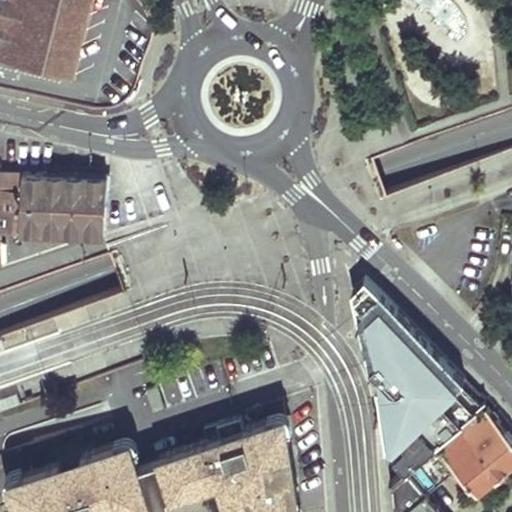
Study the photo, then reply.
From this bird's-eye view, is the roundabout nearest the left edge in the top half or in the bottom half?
top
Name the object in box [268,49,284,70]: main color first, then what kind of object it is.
white car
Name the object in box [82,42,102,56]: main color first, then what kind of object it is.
white car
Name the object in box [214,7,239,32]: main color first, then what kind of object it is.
white vehicle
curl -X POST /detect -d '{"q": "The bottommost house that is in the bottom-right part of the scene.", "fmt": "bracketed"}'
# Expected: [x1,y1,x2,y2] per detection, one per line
[392,474,422,512]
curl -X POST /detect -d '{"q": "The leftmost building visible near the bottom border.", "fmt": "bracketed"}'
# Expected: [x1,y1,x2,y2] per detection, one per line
[3,435,148,512]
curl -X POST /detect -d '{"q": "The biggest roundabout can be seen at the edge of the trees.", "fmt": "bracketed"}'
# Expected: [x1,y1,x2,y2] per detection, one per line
[180,33,304,157]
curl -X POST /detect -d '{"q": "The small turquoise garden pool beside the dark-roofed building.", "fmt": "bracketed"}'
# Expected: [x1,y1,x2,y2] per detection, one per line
[414,464,436,491]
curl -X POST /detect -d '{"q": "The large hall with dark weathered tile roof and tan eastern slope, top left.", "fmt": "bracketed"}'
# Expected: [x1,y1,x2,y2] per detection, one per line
[0,0,94,82]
